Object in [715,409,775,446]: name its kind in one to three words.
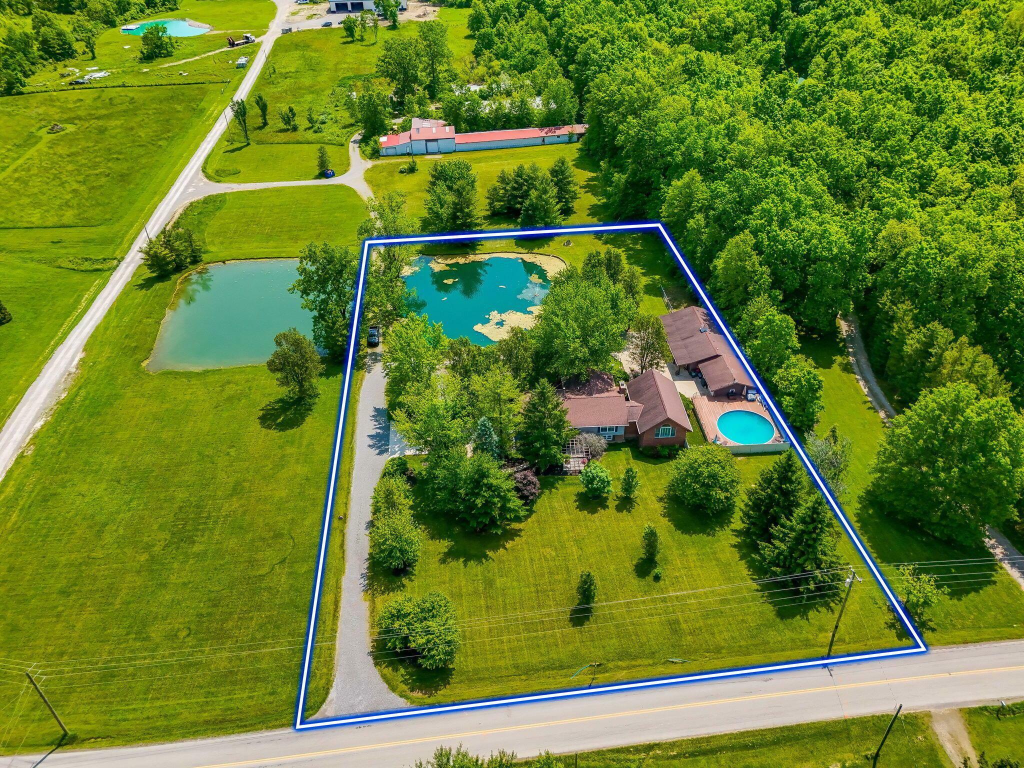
swimming pool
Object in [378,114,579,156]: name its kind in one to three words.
barn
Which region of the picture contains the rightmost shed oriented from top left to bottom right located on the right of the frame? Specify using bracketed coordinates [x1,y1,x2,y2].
[657,304,759,401]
